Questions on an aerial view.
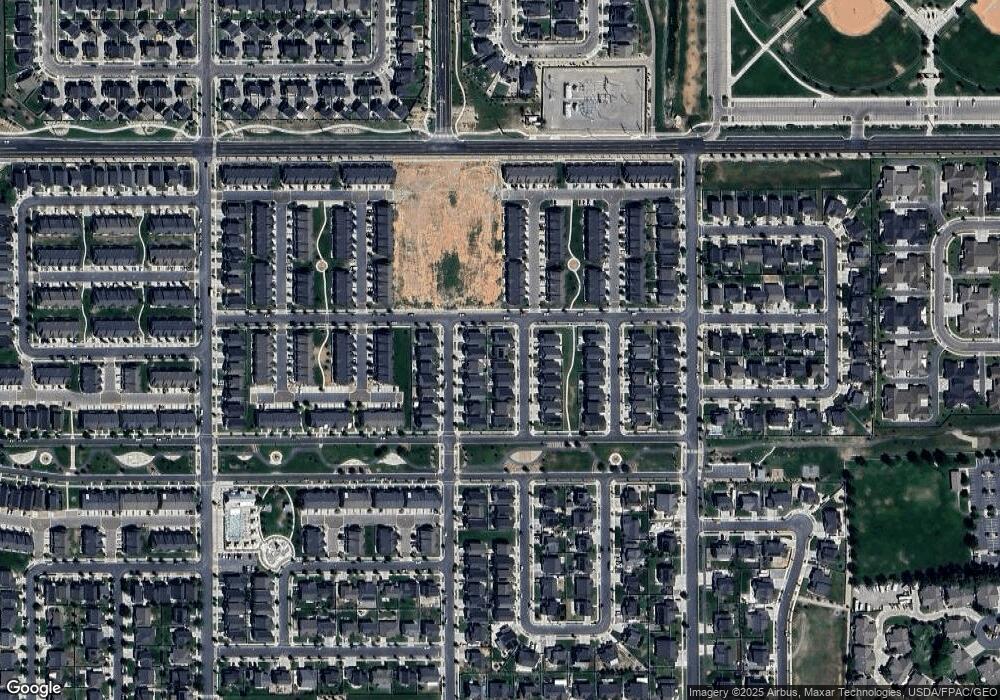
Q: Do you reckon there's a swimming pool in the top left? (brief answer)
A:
No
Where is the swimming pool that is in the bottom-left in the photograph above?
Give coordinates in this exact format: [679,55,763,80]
[225,500,262,548]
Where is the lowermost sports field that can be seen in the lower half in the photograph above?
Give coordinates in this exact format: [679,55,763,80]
[856,462,967,573]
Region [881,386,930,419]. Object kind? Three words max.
house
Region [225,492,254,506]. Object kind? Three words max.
building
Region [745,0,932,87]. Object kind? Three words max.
baseball field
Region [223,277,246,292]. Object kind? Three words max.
house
